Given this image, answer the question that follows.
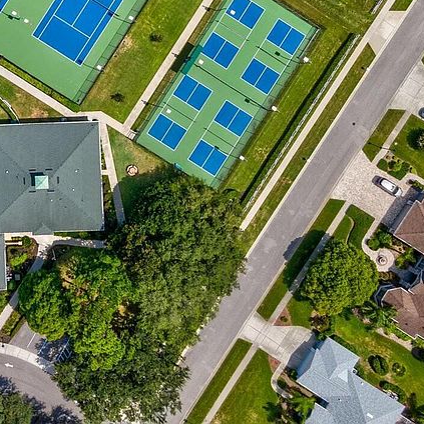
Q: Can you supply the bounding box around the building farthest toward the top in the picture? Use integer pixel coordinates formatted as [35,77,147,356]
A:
[0,120,105,236]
